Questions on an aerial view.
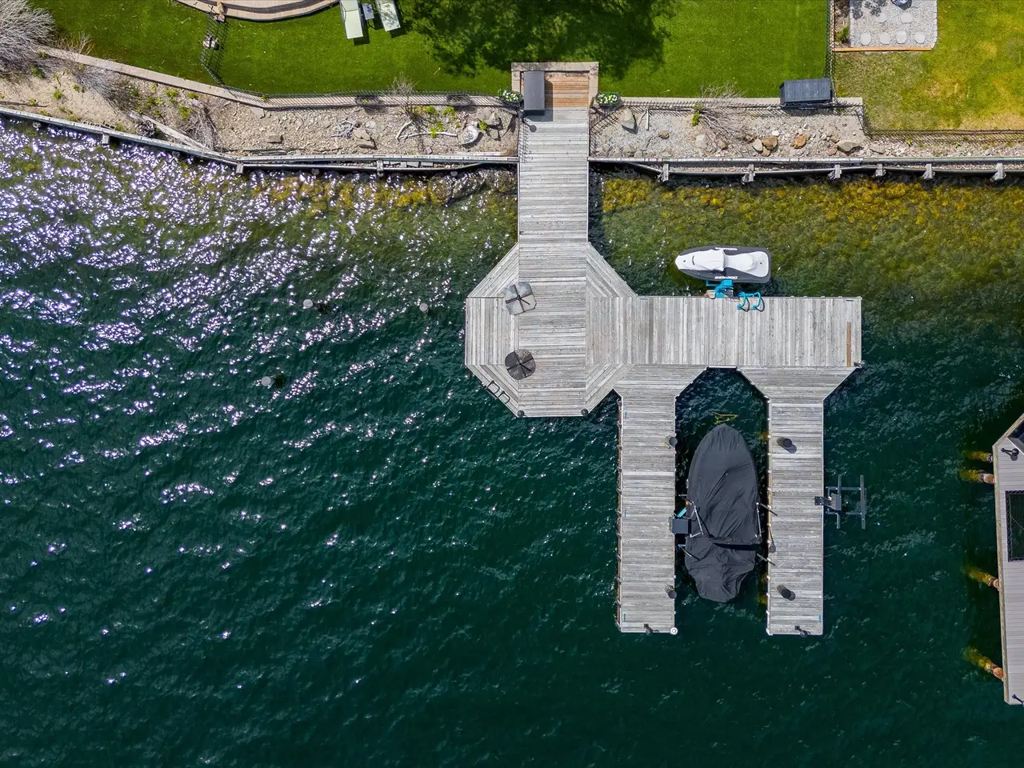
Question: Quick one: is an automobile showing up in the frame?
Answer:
No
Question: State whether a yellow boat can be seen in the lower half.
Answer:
No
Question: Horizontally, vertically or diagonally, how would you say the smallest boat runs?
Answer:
horizontally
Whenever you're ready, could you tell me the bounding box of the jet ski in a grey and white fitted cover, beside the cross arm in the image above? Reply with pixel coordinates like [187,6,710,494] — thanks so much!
[673,246,771,284]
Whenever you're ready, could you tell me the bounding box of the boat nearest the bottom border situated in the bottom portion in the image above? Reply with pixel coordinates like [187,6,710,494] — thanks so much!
[684,423,763,602]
